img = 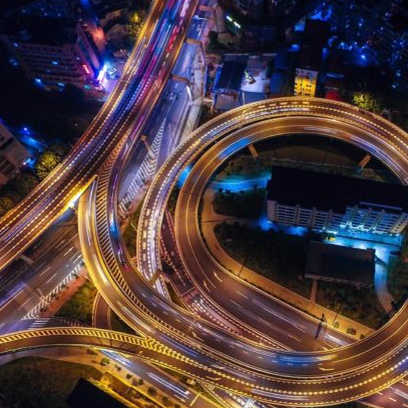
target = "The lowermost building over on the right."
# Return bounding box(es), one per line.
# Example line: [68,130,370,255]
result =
[305,240,374,291]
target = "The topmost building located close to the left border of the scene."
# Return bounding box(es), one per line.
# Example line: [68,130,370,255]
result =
[0,0,108,72]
